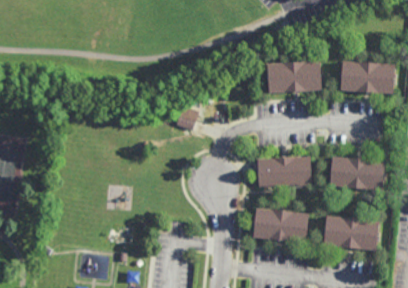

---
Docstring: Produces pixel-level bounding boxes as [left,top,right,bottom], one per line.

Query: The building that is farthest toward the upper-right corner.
[340,62,396,94]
